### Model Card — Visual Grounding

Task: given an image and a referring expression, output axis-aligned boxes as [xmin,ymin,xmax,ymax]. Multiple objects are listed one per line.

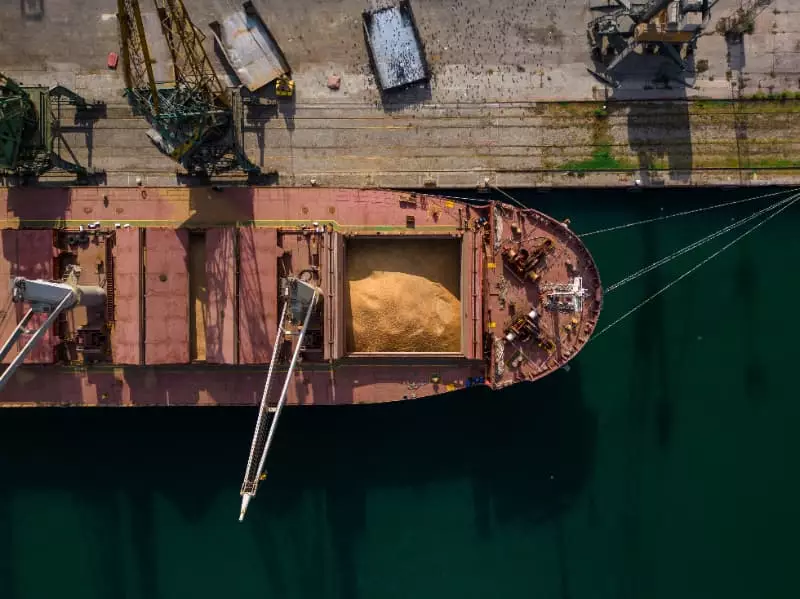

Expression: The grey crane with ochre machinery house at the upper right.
[585,0,708,90]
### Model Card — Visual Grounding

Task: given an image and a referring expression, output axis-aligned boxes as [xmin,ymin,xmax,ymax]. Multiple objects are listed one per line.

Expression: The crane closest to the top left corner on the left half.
[0,64,105,176]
